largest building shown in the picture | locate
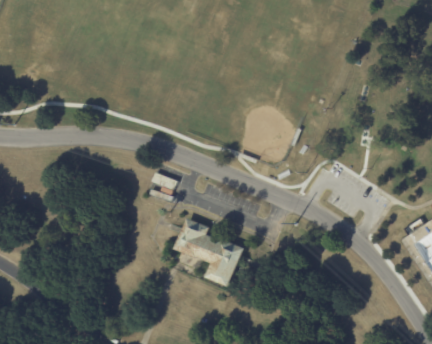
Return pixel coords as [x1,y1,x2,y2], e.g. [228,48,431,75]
[173,218,244,286]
